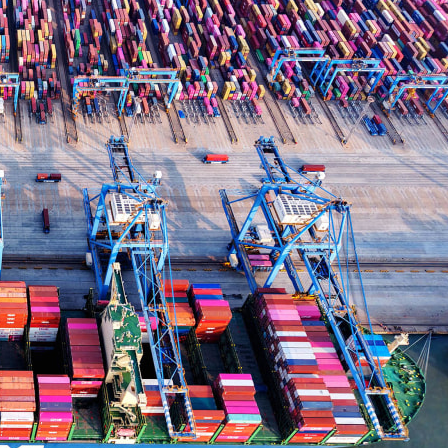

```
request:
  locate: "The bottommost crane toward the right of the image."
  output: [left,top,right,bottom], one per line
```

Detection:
[215,136,405,446]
